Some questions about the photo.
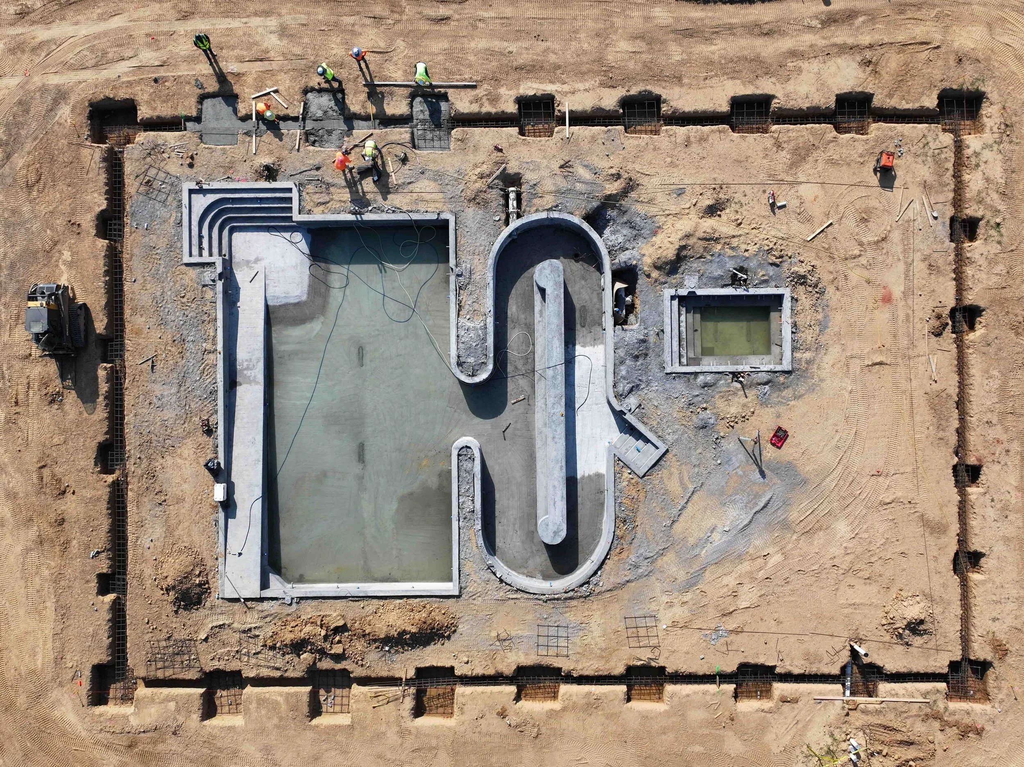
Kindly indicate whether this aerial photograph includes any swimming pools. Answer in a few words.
Yes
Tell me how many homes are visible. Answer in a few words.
0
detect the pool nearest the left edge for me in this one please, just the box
[182,182,669,597]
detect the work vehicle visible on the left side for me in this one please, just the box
[21,283,92,358]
